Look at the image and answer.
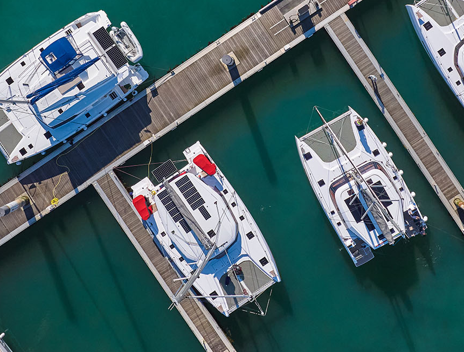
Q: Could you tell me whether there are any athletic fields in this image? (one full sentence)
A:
No, the frame has no athletic field in it.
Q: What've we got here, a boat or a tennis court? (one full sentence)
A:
Looking from above, you can make out a boat.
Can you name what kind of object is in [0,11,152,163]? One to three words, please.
boat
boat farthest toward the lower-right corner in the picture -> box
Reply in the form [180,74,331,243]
[294,105,425,266]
